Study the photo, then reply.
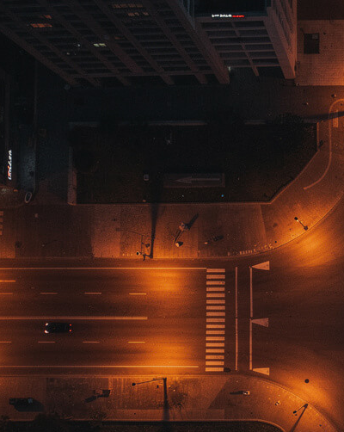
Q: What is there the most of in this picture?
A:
paved ground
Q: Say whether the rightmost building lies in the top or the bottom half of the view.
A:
top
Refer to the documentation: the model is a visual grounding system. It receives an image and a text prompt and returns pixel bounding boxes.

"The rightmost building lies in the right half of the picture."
[184,0,296,77]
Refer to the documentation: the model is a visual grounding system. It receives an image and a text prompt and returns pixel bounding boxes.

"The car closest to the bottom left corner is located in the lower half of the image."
[6,397,32,409]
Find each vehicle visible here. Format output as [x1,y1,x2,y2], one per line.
[42,321,70,335]
[6,397,32,409]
